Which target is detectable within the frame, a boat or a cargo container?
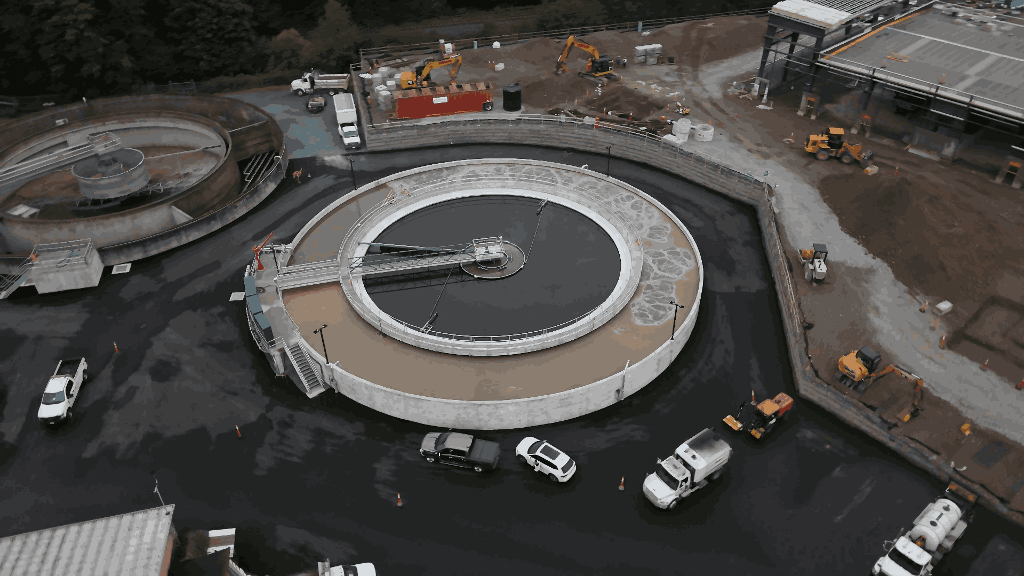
cargo container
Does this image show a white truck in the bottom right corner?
Yes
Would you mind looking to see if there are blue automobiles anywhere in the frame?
No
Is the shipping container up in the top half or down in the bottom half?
top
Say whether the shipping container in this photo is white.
No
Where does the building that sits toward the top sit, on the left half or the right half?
right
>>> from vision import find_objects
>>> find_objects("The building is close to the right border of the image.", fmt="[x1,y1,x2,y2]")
[751,0,1024,187]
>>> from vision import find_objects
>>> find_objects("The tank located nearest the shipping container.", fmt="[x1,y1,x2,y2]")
[501,80,522,110]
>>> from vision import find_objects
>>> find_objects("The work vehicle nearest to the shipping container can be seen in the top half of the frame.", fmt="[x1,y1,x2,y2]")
[394,51,462,88]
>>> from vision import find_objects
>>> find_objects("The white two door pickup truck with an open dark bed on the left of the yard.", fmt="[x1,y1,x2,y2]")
[36,361,89,427]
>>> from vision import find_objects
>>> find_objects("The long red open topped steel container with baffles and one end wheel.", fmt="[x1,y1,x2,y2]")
[386,80,494,118]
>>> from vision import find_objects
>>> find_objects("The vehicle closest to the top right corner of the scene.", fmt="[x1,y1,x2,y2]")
[806,129,869,164]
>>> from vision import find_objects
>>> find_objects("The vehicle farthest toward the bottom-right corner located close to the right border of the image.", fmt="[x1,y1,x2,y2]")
[878,485,984,576]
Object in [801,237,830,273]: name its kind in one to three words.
work vehicle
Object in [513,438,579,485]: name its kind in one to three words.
car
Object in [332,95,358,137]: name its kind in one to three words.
truck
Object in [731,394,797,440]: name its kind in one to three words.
vehicle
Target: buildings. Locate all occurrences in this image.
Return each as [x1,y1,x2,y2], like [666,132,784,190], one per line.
[0,502,190,576]
[751,0,1024,187]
